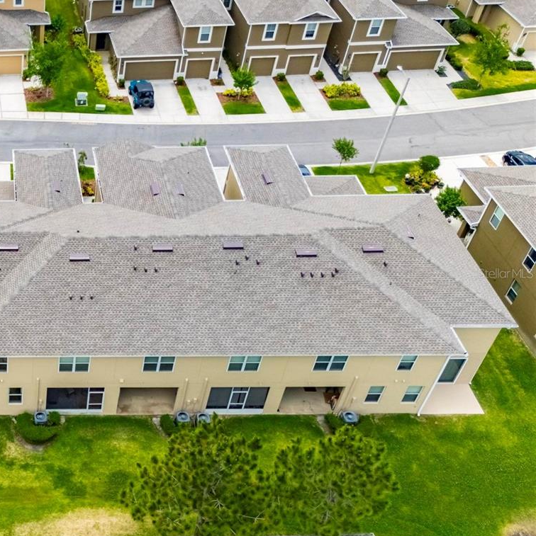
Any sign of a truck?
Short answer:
No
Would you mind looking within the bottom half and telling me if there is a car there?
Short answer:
No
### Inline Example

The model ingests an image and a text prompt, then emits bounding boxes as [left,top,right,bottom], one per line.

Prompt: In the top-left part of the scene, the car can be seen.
[127,81,157,107]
